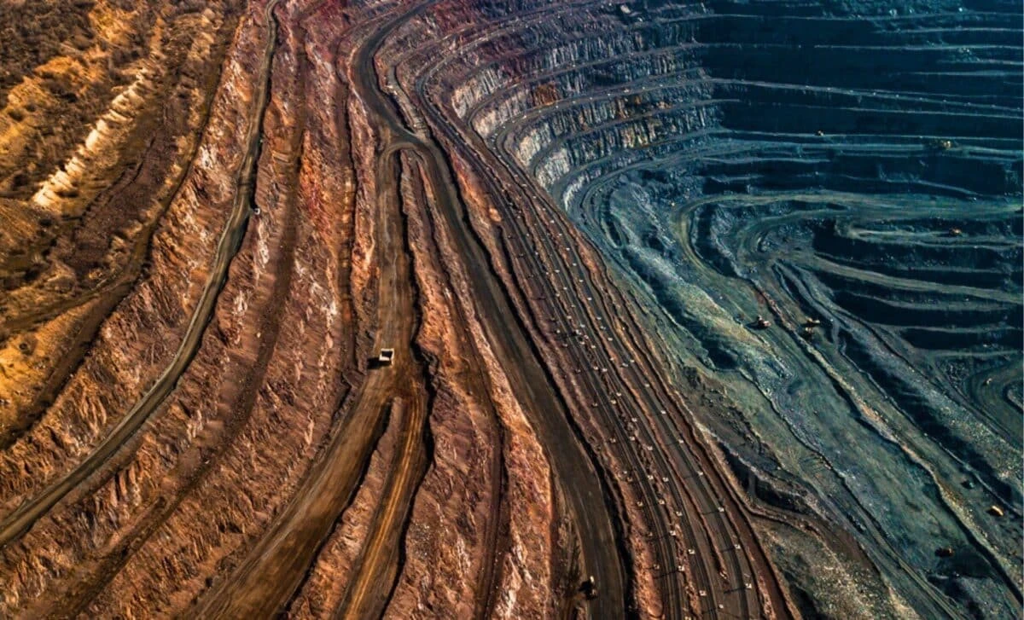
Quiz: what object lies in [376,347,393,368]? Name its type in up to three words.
vehicle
